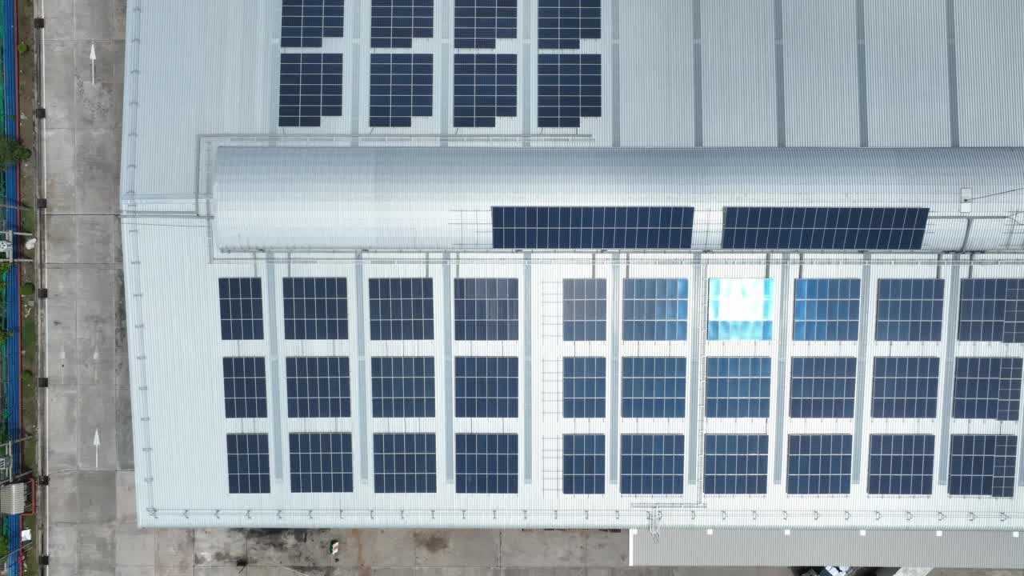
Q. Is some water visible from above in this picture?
No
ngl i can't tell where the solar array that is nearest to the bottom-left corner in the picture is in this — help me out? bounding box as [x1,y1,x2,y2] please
[225,426,269,493]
